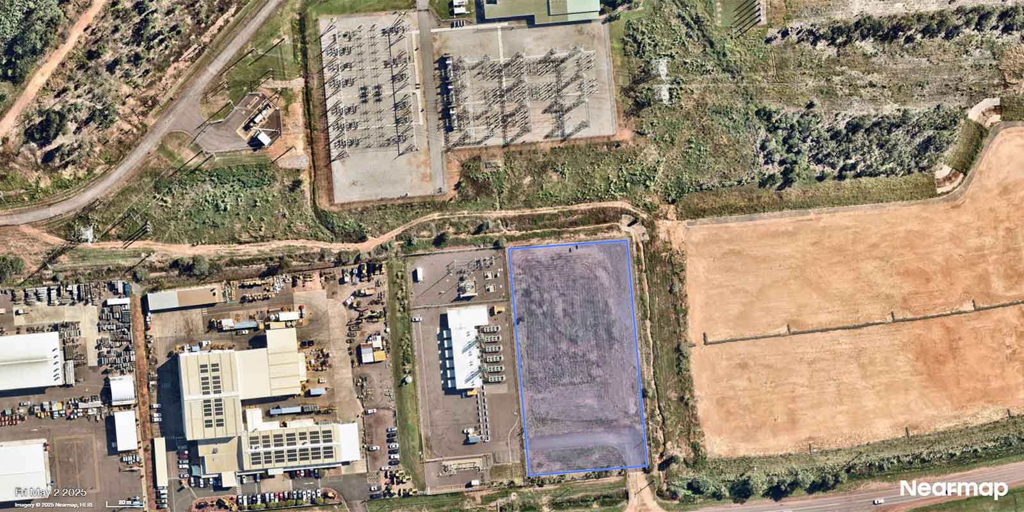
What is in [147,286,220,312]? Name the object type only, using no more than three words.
shed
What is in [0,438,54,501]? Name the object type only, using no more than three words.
building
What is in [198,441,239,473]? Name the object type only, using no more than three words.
building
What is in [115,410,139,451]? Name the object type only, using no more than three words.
shed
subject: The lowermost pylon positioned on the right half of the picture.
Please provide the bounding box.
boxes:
[658,81,673,106]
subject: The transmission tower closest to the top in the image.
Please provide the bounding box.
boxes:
[656,54,671,81]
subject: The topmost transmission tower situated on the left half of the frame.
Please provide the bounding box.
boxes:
[79,225,95,243]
